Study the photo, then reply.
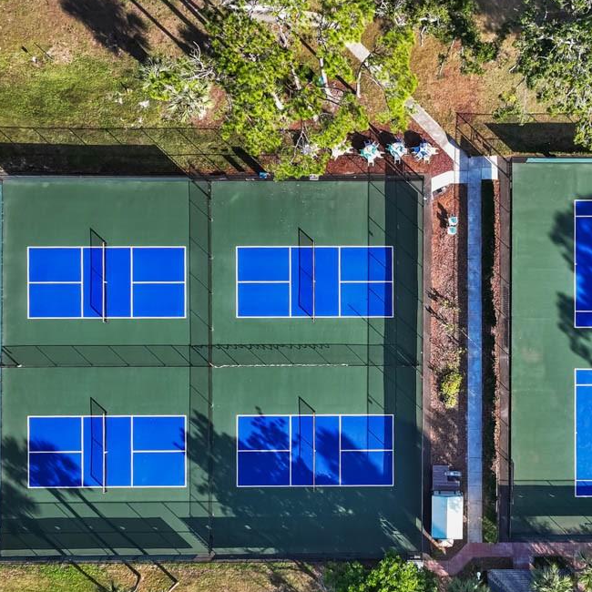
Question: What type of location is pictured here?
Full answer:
This image shows a sports ground.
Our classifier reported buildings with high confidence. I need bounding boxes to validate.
[433,492,464,541]
[488,565,556,592]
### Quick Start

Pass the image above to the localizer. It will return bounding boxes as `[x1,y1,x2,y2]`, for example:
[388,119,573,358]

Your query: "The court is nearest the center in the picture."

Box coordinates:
[211,182,424,367]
